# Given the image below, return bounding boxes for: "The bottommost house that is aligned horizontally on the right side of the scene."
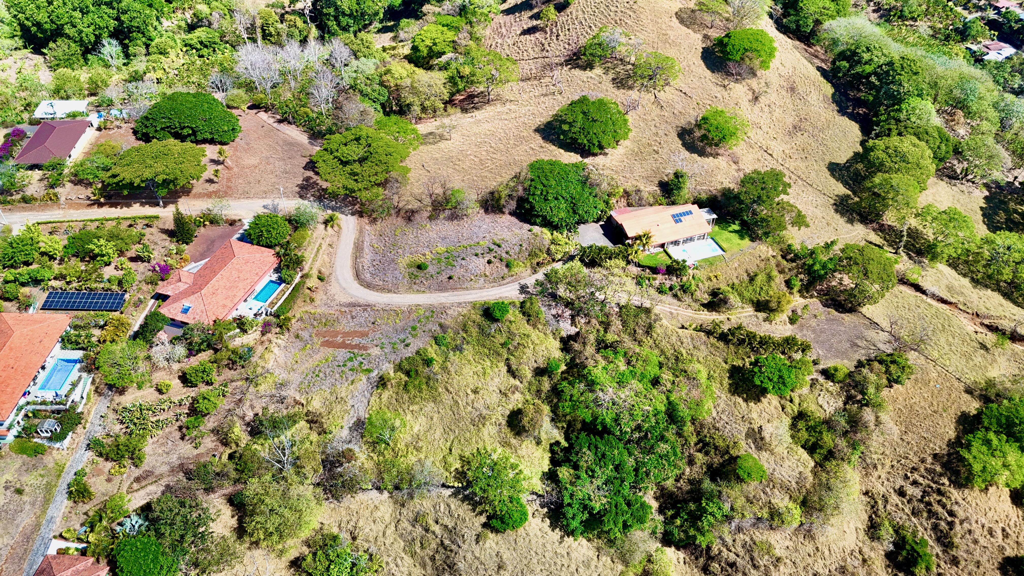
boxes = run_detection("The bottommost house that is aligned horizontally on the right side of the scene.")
[603,202,715,252]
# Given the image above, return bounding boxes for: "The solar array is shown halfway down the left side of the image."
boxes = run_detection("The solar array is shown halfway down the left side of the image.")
[42,292,128,312]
